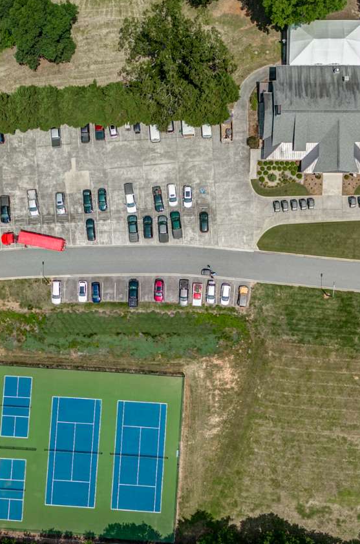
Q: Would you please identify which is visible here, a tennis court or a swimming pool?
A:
tennis court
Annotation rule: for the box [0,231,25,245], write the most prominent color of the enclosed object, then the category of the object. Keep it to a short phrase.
red vehicle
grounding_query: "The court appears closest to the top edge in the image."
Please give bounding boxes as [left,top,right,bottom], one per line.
[0,376,32,439]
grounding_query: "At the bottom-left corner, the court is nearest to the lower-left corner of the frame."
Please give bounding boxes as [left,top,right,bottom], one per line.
[0,458,26,522]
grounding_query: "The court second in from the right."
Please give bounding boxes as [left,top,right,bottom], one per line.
[46,396,101,509]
